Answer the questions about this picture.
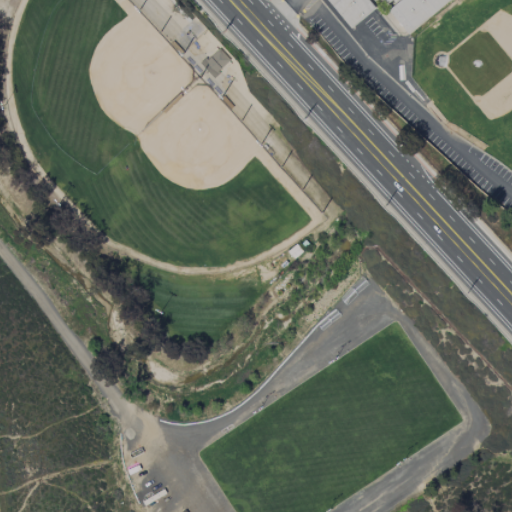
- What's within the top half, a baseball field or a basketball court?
baseball field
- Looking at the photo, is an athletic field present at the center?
Yes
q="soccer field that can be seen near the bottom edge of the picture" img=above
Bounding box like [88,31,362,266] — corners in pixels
[200,322,464,512]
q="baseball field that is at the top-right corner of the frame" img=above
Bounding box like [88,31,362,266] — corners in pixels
[415,0,512,164]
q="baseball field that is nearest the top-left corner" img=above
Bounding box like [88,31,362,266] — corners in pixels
[12,0,200,202]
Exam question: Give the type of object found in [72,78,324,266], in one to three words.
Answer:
baseball field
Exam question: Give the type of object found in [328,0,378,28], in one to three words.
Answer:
building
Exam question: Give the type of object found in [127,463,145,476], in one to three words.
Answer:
vehicle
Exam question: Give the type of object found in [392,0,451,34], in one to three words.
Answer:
building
